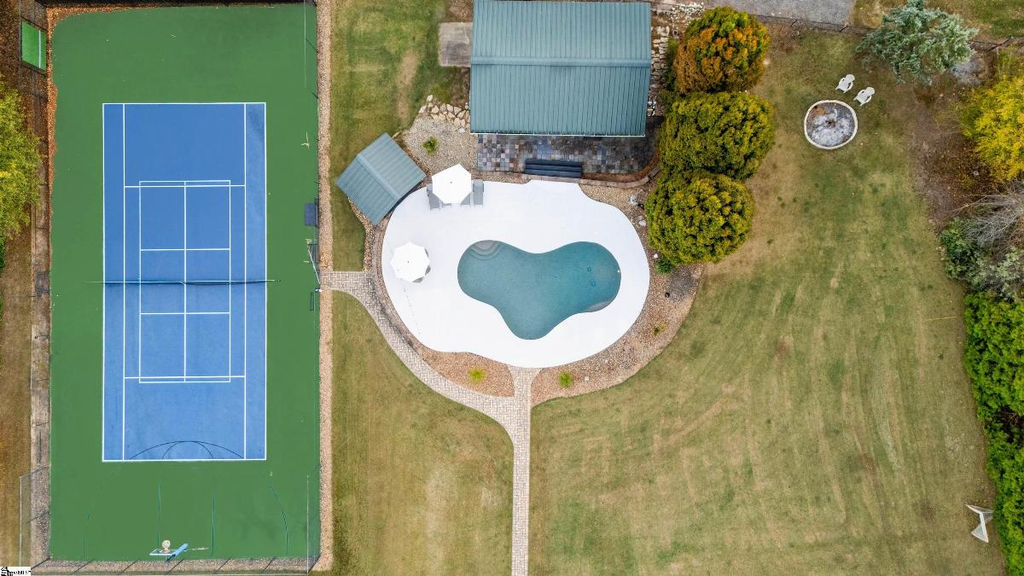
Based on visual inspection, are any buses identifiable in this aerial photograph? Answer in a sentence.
No, the photo shows no bus.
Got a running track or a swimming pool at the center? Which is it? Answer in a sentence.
The one visible at the center is a swimming pool.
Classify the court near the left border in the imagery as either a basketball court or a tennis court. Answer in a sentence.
What you see as the court near the left border is a tennis court.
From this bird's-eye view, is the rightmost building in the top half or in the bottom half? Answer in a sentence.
You can find the rightmost building in the top half.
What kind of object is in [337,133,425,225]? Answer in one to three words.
shed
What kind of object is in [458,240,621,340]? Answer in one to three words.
swimming pool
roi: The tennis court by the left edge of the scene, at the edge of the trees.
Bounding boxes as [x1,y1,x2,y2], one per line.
[50,7,320,560]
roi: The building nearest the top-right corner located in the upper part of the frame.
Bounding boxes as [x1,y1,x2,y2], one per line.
[470,0,654,139]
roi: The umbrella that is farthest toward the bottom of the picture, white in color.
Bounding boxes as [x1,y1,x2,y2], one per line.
[391,242,430,283]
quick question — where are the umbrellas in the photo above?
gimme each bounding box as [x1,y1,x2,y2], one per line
[432,164,472,204]
[391,242,430,283]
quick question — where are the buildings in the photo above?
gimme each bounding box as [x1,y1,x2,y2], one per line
[470,0,654,139]
[337,133,425,225]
